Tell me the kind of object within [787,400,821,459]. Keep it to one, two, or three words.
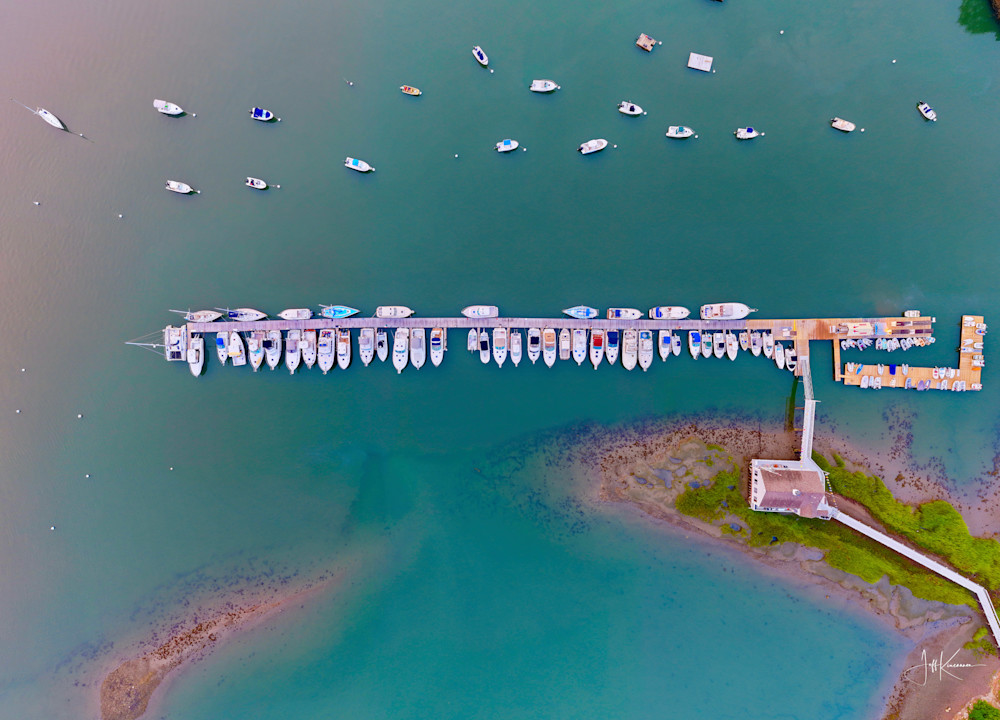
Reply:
pier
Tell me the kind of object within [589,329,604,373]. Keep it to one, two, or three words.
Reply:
boat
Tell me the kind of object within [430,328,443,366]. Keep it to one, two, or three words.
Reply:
boat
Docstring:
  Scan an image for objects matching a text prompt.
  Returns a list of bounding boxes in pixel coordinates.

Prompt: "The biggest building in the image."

[748,458,837,523]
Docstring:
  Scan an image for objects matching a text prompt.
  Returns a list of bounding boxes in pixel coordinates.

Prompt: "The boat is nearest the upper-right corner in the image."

[915,103,936,119]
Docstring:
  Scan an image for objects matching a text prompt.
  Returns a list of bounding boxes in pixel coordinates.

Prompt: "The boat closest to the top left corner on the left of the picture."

[10,98,78,134]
